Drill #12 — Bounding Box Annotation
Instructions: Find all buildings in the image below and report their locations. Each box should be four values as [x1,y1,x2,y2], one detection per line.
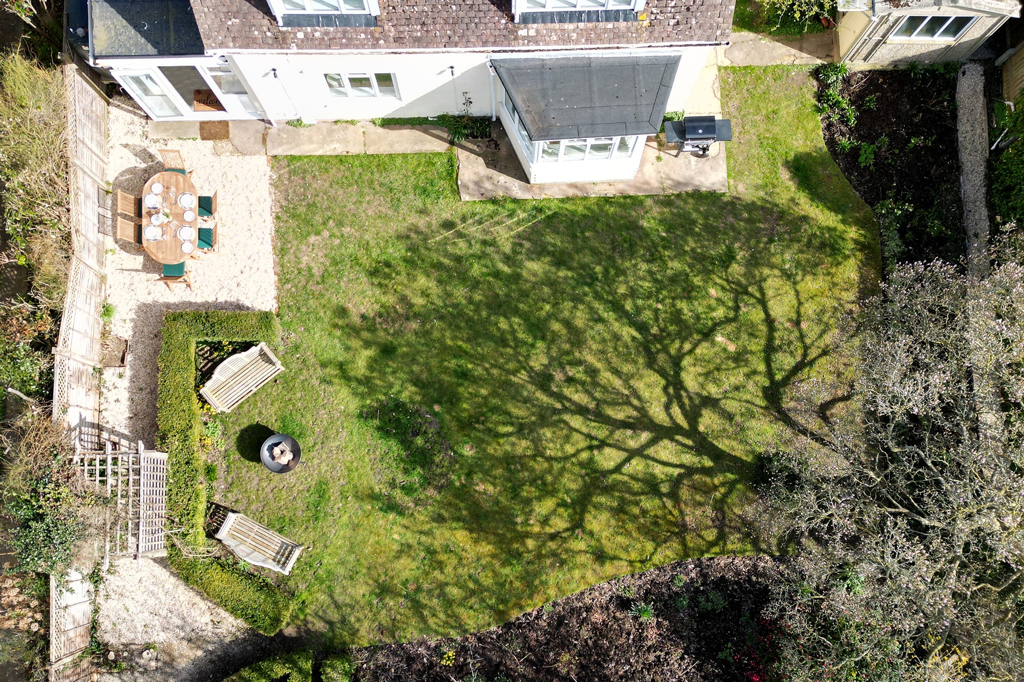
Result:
[83,0,738,182]
[831,0,1024,65]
